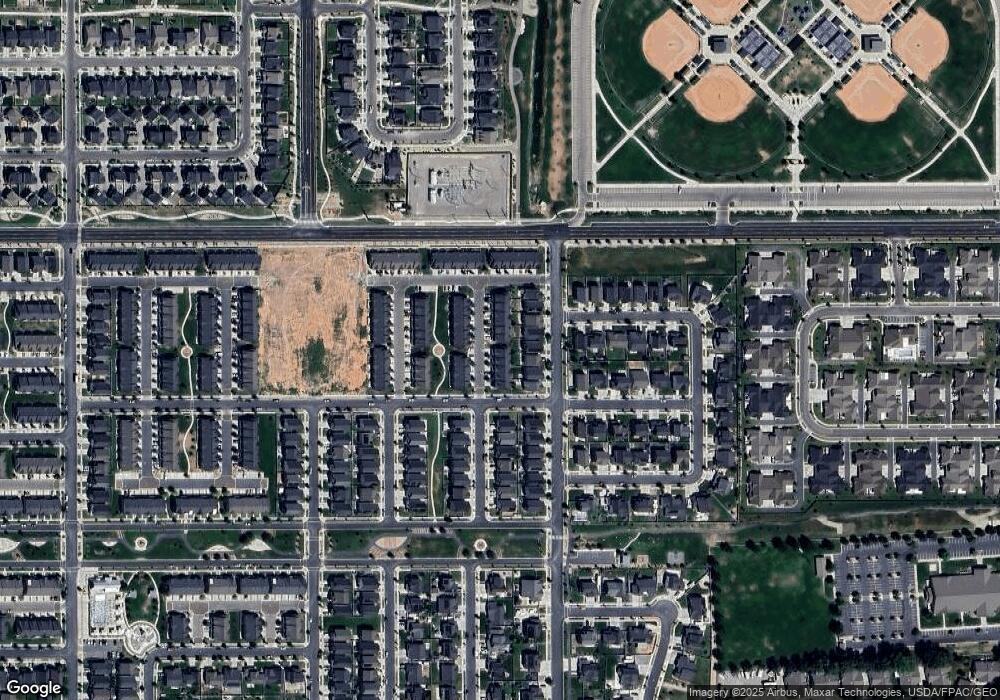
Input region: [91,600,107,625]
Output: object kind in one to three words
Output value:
swimming pool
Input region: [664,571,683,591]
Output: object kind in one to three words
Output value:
house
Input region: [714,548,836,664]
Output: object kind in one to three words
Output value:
sports field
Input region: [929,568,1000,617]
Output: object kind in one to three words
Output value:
building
